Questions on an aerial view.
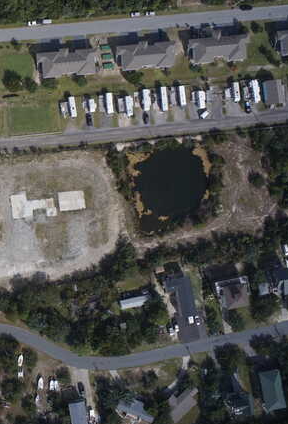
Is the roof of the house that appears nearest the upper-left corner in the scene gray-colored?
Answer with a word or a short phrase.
Yes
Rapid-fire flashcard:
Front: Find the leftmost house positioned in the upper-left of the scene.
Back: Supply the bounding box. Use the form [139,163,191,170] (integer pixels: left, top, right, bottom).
[37,49,97,78]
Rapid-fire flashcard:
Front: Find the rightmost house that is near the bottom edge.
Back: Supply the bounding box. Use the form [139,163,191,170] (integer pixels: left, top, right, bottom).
[257,369,286,411]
